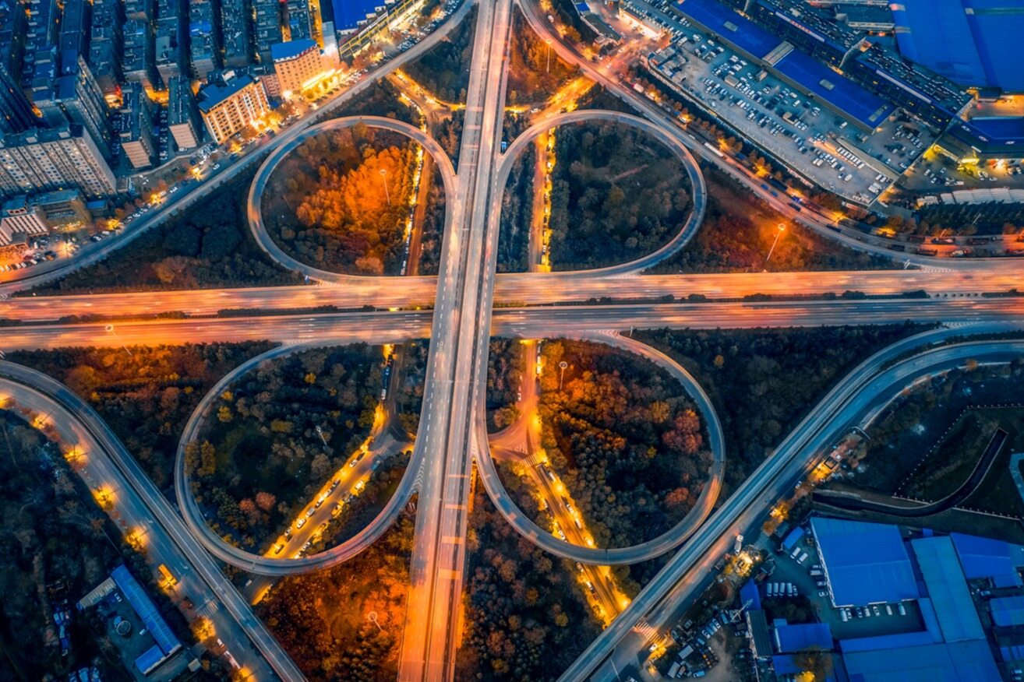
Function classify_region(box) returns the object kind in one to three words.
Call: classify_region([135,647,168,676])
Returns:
shed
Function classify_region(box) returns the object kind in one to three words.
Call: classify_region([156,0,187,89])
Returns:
building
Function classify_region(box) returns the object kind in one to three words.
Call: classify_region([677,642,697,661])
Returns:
vehicle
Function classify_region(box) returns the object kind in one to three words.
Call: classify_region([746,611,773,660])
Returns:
shed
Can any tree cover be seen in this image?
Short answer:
Yes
